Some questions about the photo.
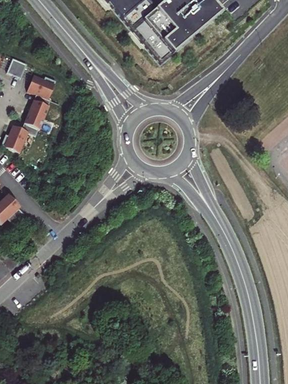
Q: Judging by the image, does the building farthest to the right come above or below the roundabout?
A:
above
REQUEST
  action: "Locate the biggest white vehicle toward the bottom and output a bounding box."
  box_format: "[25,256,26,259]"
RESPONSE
[12,263,30,278]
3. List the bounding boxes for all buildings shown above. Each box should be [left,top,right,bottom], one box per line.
[4,124,28,154]
[0,193,20,226]
[24,99,49,128]
[97,0,224,64]
[27,75,54,100]
[6,58,24,80]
